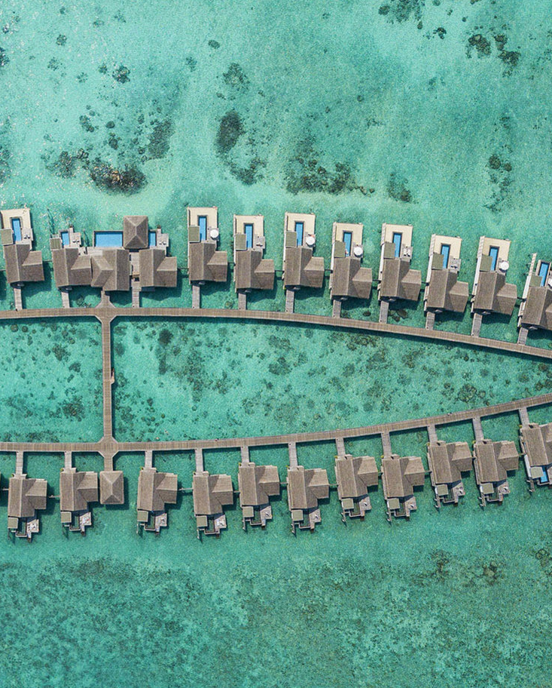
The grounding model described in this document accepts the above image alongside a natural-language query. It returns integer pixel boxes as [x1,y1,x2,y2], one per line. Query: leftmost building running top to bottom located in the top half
[0,205,44,291]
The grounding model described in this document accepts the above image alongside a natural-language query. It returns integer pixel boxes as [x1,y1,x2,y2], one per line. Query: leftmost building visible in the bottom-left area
[4,471,47,544]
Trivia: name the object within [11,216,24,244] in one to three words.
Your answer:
swimming pool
